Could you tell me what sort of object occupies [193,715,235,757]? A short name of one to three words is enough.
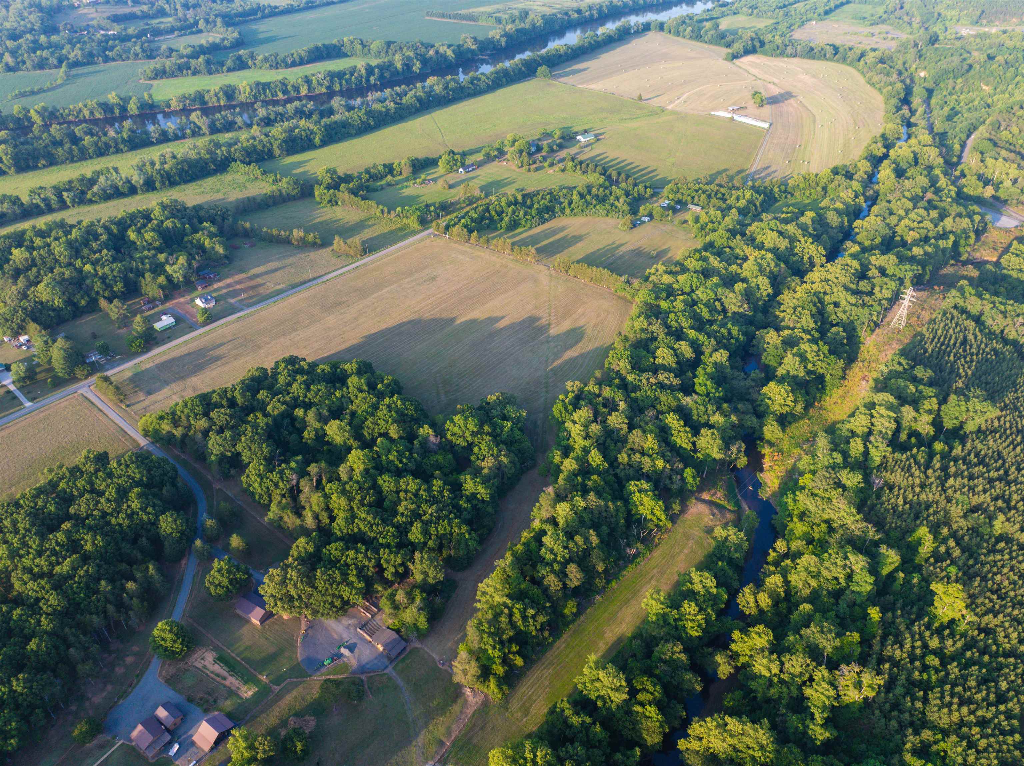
barn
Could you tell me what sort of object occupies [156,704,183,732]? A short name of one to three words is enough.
house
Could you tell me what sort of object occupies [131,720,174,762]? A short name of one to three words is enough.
house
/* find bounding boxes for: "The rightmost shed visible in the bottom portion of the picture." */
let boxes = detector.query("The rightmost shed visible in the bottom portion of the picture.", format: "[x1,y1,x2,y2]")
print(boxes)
[363,625,413,671]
